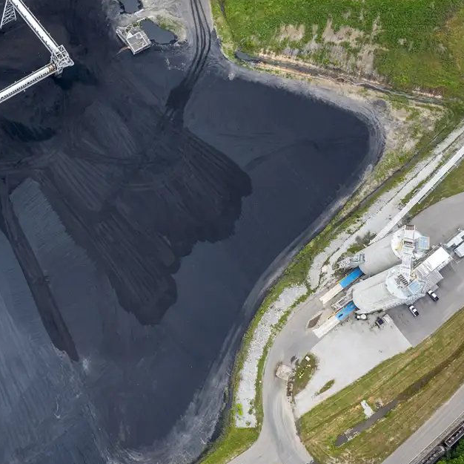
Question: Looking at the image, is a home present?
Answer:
Yes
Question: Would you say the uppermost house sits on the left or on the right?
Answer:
left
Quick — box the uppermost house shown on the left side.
[115,28,152,55]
